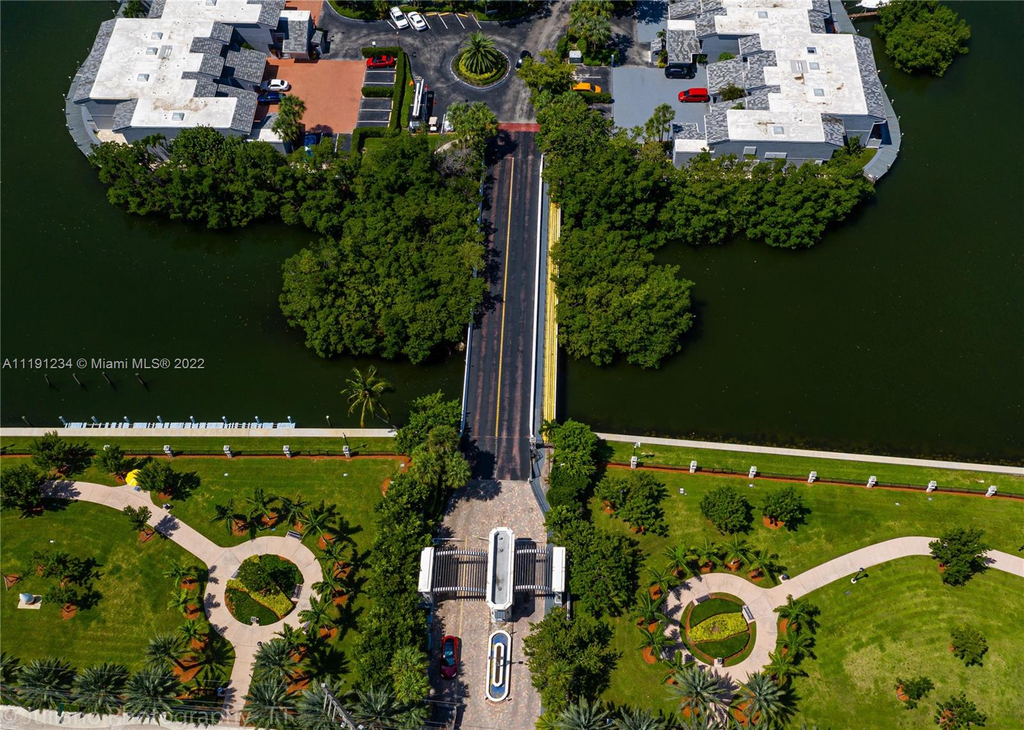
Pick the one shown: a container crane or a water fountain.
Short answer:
water fountain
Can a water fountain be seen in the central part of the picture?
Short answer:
No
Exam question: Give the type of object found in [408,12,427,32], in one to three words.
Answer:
car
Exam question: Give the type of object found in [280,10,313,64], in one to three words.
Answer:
building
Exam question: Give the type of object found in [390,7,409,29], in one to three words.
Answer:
vehicle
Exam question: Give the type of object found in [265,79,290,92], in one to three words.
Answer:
vehicle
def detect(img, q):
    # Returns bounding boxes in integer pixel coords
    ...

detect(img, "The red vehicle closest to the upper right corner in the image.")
[678,89,707,104]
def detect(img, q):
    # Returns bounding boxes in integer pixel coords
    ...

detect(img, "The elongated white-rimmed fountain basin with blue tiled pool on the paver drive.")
[487,630,511,704]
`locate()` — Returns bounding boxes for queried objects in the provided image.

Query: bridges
[460,131,563,457]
